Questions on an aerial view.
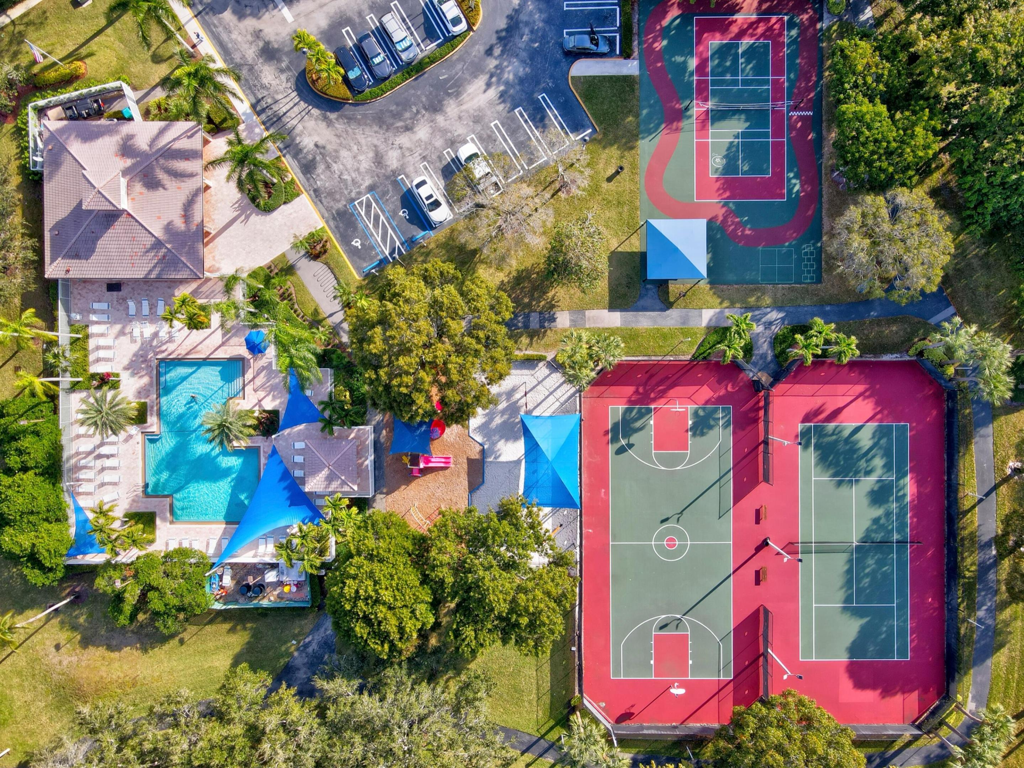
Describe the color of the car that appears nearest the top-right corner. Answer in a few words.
blue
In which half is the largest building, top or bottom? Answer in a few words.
top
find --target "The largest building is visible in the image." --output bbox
[41,120,217,279]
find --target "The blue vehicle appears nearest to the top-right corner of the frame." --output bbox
[562,23,610,56]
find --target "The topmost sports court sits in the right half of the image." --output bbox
[639,0,823,284]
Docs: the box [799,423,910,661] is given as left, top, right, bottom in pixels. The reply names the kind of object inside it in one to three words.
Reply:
tennis court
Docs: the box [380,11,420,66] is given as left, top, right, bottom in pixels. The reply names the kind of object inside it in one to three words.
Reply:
car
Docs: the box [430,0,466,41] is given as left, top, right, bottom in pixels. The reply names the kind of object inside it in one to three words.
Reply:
car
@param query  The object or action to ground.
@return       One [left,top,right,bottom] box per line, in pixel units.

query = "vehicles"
[462,140,506,200]
[562,23,610,56]
[333,44,371,95]
[380,11,420,66]
[356,30,395,84]
[430,0,466,41]
[410,175,449,226]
